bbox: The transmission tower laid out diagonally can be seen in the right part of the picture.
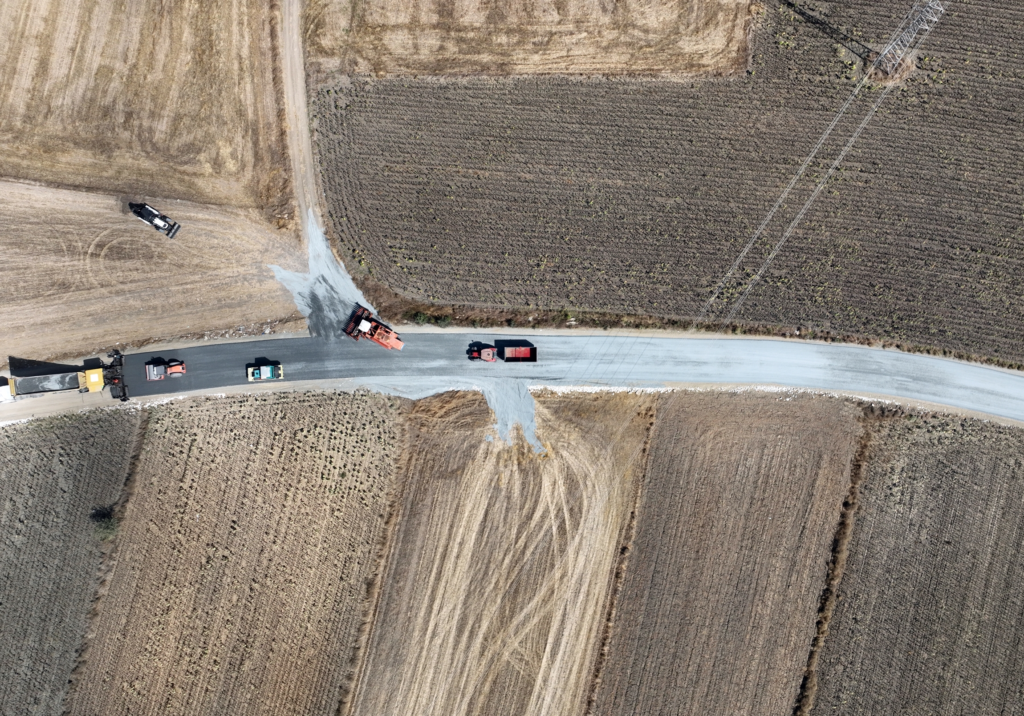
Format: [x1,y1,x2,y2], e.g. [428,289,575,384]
[874,0,942,74]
